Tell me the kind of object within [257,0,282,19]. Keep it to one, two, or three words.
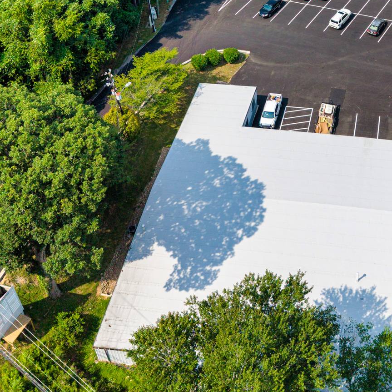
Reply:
car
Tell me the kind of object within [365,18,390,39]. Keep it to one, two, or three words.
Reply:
car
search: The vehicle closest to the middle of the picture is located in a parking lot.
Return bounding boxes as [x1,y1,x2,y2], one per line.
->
[259,92,283,128]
